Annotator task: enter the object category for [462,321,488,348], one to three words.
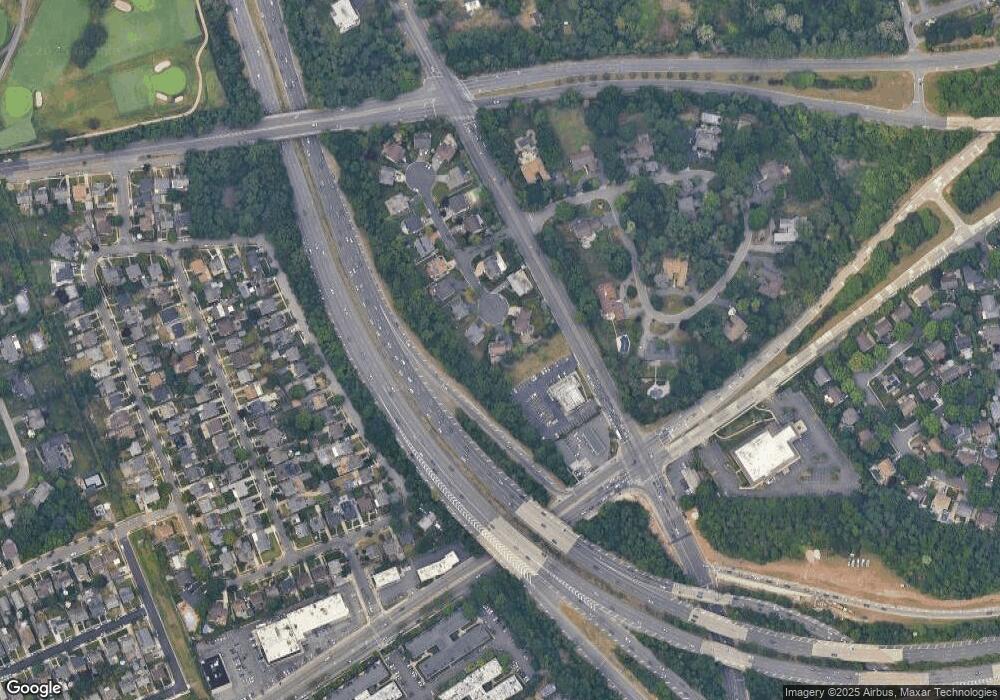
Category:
house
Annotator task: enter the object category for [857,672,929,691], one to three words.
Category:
bridge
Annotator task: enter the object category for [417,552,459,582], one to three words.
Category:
building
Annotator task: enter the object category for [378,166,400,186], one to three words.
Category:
house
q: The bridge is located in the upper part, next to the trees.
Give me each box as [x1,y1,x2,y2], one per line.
[264,108,321,139]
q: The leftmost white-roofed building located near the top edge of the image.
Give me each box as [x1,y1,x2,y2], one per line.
[331,0,360,35]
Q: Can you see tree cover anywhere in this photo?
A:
Yes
